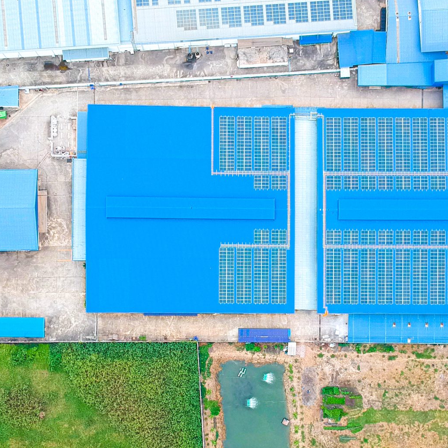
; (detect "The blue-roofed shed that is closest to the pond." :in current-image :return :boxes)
[239,328,291,342]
